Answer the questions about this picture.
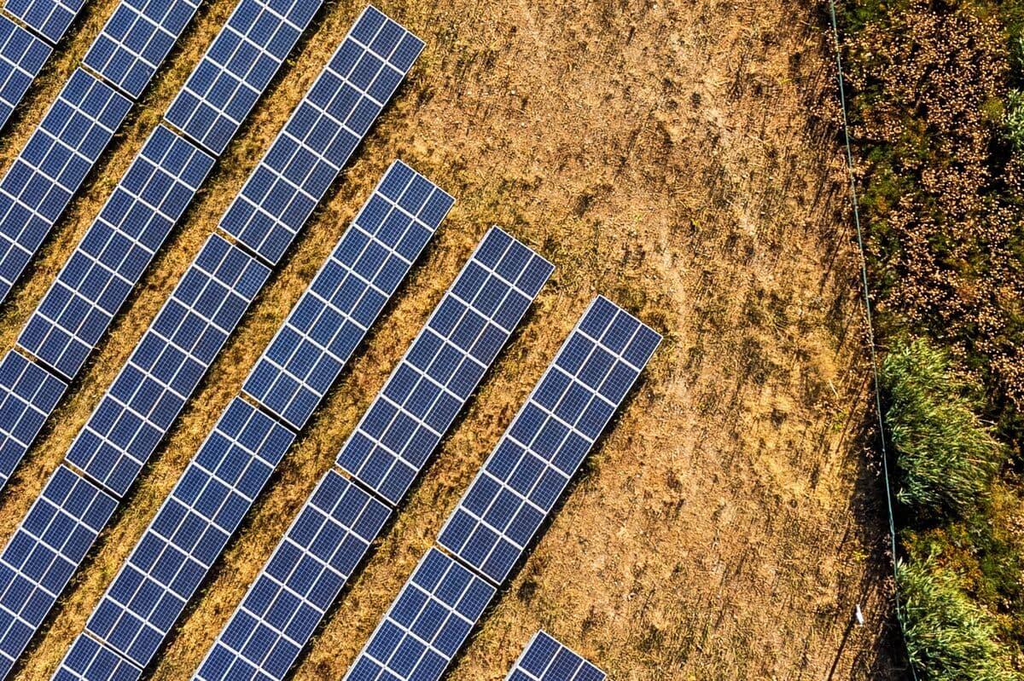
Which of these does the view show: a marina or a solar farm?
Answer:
solar farm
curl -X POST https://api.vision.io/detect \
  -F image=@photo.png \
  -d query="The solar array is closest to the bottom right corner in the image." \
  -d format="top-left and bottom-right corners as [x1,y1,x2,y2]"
[503,627,606,681]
